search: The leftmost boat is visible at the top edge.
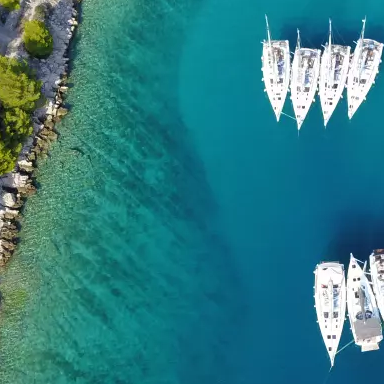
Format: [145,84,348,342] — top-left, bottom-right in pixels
[262,10,291,127]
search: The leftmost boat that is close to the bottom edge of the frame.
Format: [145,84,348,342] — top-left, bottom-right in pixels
[314,255,346,384]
